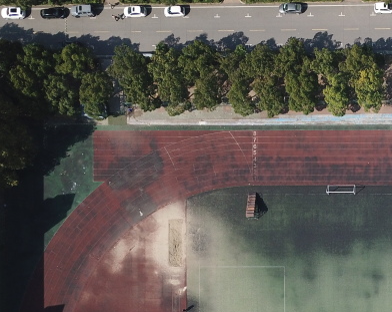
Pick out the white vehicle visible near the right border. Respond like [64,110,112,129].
[372,0,392,13]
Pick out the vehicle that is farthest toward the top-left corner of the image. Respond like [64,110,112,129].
[0,4,23,18]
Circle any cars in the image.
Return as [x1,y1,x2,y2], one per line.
[161,3,186,17]
[67,2,93,16]
[39,3,65,18]
[121,3,147,17]
[278,0,302,14]
[372,0,392,13]
[0,4,23,18]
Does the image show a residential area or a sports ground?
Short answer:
sports ground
